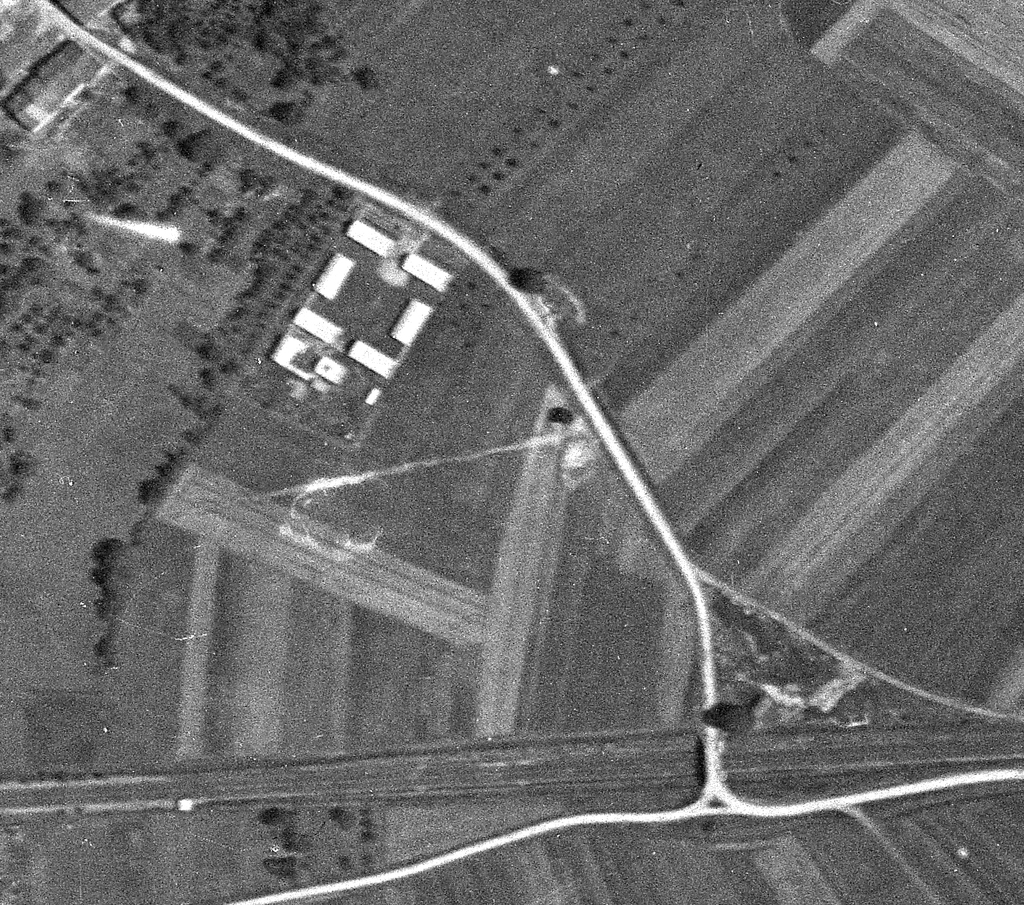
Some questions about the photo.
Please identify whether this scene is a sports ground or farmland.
farmland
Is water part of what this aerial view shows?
No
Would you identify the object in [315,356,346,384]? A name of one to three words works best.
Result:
building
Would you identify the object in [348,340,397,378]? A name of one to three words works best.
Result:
shed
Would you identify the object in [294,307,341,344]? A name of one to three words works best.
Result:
shed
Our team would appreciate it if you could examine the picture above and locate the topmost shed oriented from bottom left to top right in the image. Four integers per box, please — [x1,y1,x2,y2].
[316,253,355,298]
